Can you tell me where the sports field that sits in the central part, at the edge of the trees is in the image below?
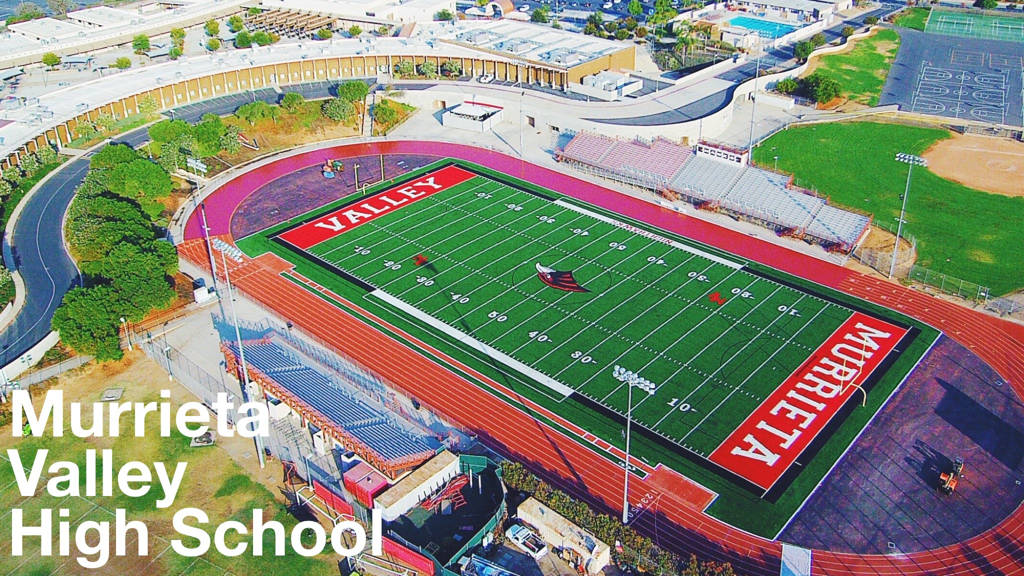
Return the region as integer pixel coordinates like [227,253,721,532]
[236,158,946,539]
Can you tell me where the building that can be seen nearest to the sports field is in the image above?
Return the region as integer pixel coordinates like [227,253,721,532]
[441,102,499,132]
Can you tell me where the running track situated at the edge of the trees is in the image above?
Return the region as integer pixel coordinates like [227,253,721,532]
[179,138,1024,576]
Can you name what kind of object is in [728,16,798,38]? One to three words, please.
swimming pool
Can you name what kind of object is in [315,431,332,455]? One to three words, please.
shed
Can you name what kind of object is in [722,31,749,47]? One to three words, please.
building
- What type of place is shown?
sports ground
